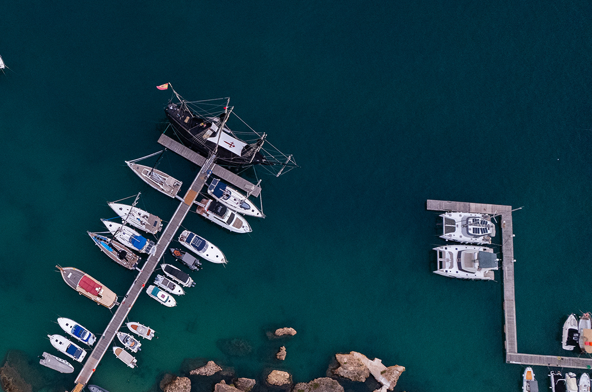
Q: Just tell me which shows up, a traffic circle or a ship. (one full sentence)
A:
I can see a ship in this picture.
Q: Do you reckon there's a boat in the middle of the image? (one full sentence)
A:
Yes, there is a boat in the middle of the image.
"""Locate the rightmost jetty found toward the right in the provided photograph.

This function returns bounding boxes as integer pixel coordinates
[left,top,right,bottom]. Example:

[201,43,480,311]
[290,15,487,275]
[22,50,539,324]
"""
[425,200,592,369]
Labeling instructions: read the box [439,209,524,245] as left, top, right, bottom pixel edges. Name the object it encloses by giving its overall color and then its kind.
white boat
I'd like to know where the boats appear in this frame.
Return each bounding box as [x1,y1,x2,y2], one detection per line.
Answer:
[521,367,538,392]
[561,314,577,350]
[548,372,564,392]
[117,148,182,198]
[117,333,143,352]
[88,386,106,392]
[77,226,141,270]
[178,232,232,268]
[53,316,98,348]
[55,266,122,311]
[576,314,592,353]
[439,209,524,245]
[145,285,178,307]
[40,353,74,372]
[434,246,508,280]
[576,373,590,392]
[104,193,167,234]
[92,213,158,256]
[149,271,188,295]
[126,323,157,340]
[197,200,254,234]
[205,180,271,223]
[564,370,578,392]
[114,348,138,368]
[48,335,87,364]
[162,265,197,290]
[169,248,202,272]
